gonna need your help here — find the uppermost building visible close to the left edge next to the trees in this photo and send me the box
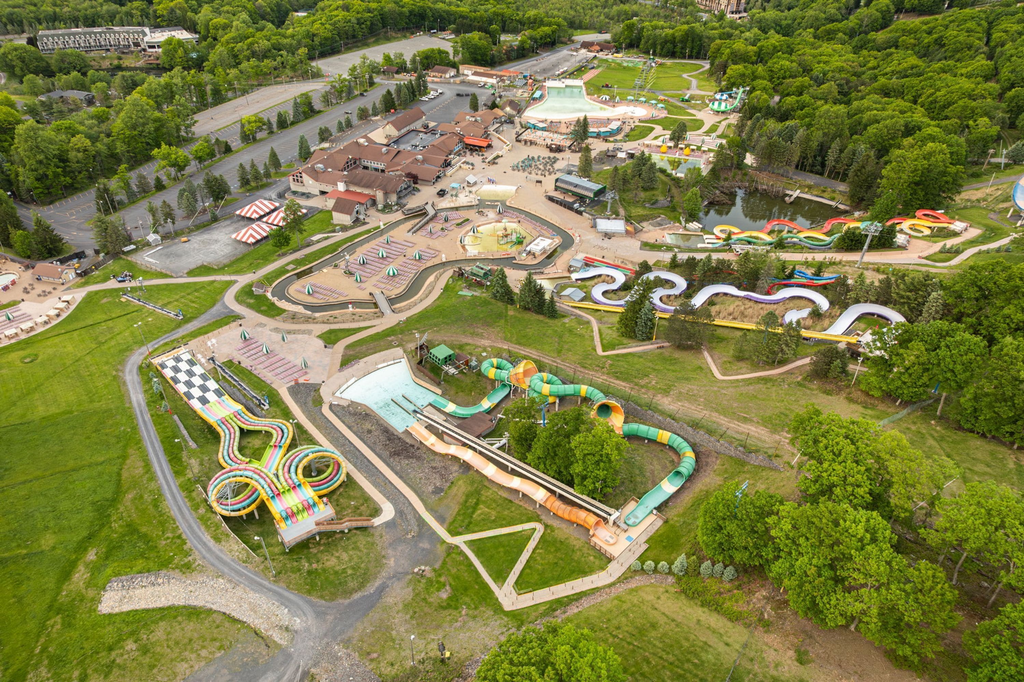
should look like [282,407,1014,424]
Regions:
[36,17,199,51]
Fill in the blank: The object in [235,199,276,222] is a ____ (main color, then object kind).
white tent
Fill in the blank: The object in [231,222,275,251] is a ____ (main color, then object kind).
white tent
